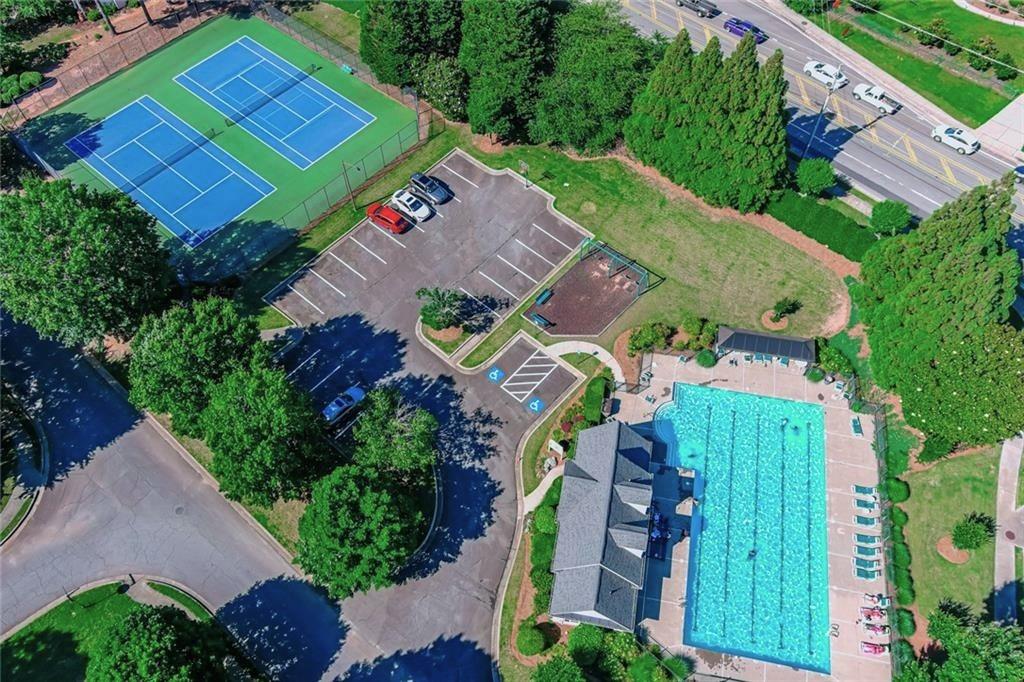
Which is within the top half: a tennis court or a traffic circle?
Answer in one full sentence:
Visible within the top half is a tennis court.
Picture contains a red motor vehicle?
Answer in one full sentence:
Yes, the photo shows a red motor vehicle.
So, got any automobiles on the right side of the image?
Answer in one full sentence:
Yes, there is an automobile on the right side of the image.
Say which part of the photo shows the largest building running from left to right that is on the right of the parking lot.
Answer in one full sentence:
You can find the largest building running from left to right that is on the right of the parking lot in the right area of the picture.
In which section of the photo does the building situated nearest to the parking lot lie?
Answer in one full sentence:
The building situated nearest to the parking lot is in the bottom part of the image.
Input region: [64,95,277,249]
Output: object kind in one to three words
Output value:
tennis court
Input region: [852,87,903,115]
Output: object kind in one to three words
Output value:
truck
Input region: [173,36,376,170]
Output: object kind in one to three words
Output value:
tennis court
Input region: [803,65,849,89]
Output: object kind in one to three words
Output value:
car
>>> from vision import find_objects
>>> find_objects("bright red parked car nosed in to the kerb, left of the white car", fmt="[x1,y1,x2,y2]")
[366,206,410,234]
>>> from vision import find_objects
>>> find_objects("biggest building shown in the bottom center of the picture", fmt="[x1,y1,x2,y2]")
[547,419,656,636]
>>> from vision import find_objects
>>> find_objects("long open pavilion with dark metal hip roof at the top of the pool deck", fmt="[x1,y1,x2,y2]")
[716,325,815,374]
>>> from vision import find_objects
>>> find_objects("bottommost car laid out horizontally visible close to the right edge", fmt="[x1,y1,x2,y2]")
[931,129,981,155]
